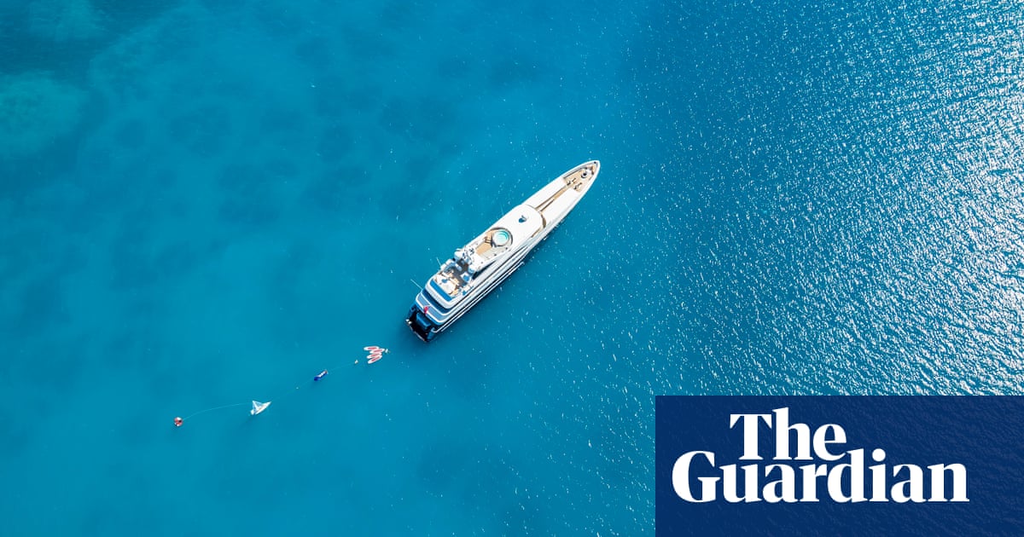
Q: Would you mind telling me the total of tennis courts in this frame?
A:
0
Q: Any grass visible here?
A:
No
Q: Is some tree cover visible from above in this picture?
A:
No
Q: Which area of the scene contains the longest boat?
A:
center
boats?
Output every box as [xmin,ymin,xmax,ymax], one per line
[314,370,329,380]
[250,400,272,415]
[407,160,601,341]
